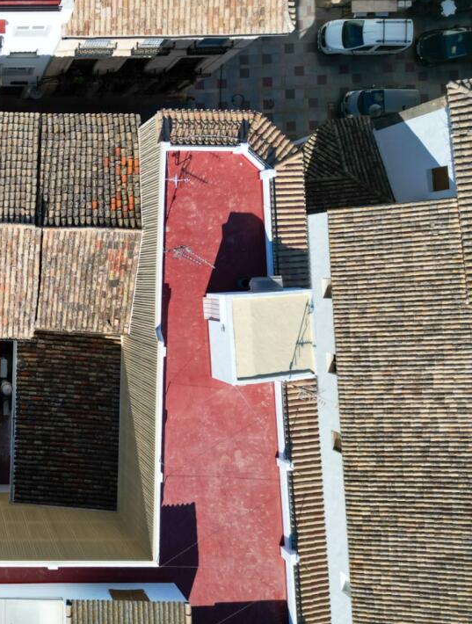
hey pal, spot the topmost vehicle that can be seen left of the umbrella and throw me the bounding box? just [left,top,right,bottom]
[316,13,416,59]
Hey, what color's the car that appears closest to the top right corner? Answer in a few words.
black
